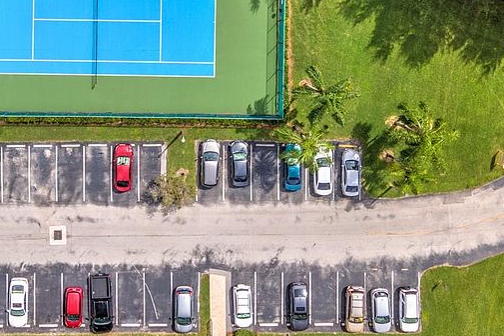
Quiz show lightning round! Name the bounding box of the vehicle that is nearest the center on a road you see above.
[229,140,250,188]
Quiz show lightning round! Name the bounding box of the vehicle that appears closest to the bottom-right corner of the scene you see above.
[396,285,422,334]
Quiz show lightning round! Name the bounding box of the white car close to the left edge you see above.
[6,278,28,328]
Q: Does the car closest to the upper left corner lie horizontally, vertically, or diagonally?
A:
vertically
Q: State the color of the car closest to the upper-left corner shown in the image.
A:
red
